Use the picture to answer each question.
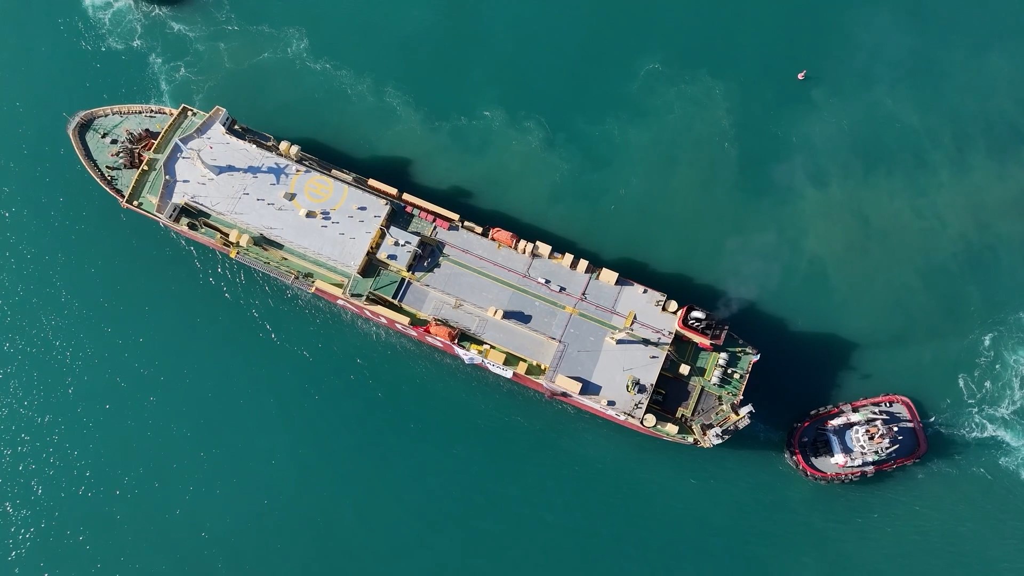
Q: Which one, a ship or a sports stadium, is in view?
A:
ship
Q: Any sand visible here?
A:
No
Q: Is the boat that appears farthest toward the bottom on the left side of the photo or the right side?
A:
right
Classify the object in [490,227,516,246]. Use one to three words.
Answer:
boat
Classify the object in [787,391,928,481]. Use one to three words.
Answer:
boat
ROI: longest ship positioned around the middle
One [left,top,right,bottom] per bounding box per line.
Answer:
[56,102,756,448]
